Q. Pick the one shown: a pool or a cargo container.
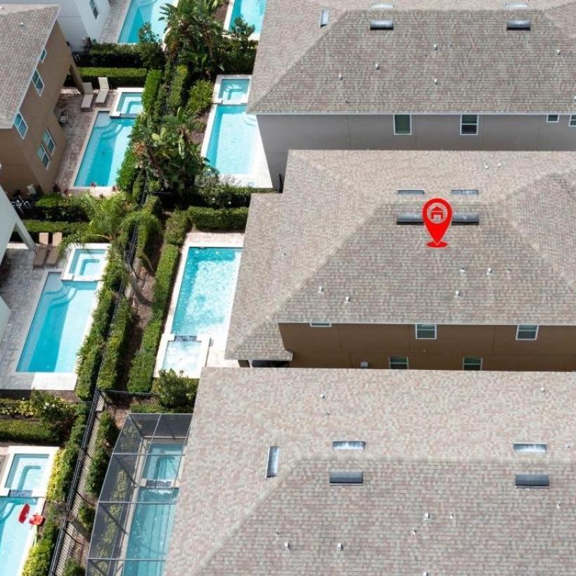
pool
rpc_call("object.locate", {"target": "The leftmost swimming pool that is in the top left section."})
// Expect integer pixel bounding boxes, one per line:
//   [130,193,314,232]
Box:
[67,87,144,189]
